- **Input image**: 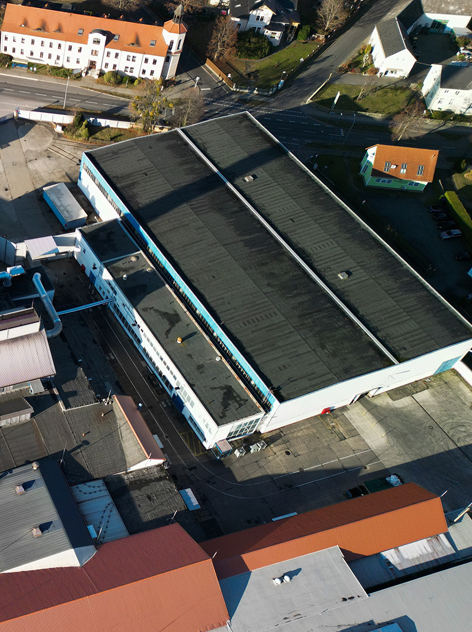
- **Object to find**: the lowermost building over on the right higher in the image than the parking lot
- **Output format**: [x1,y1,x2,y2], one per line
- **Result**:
[358,139,434,192]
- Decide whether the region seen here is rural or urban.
urban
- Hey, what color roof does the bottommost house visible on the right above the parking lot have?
orange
